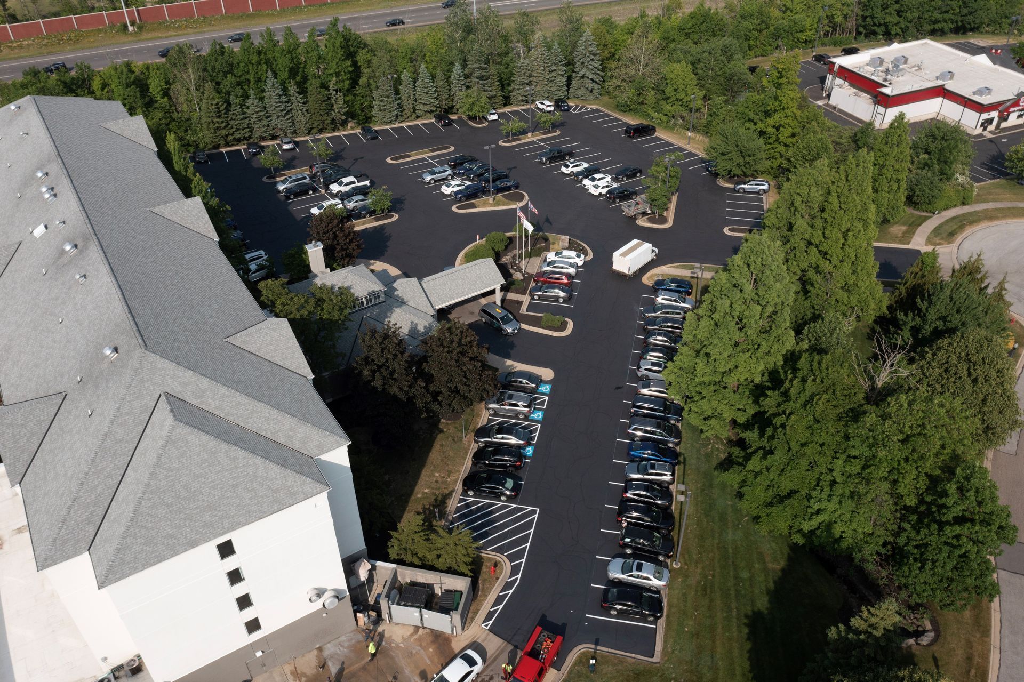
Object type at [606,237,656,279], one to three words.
truck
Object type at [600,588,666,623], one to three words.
car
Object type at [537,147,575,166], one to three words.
vehicle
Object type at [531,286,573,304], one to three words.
car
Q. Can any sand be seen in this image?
No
